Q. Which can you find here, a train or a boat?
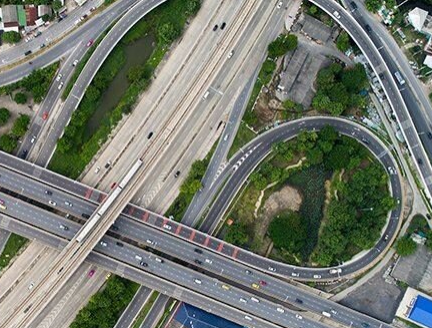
train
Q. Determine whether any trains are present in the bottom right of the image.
No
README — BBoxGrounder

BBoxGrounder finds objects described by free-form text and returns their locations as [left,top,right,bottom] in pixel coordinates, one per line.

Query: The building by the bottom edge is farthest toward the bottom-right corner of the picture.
[389,287,432,328]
